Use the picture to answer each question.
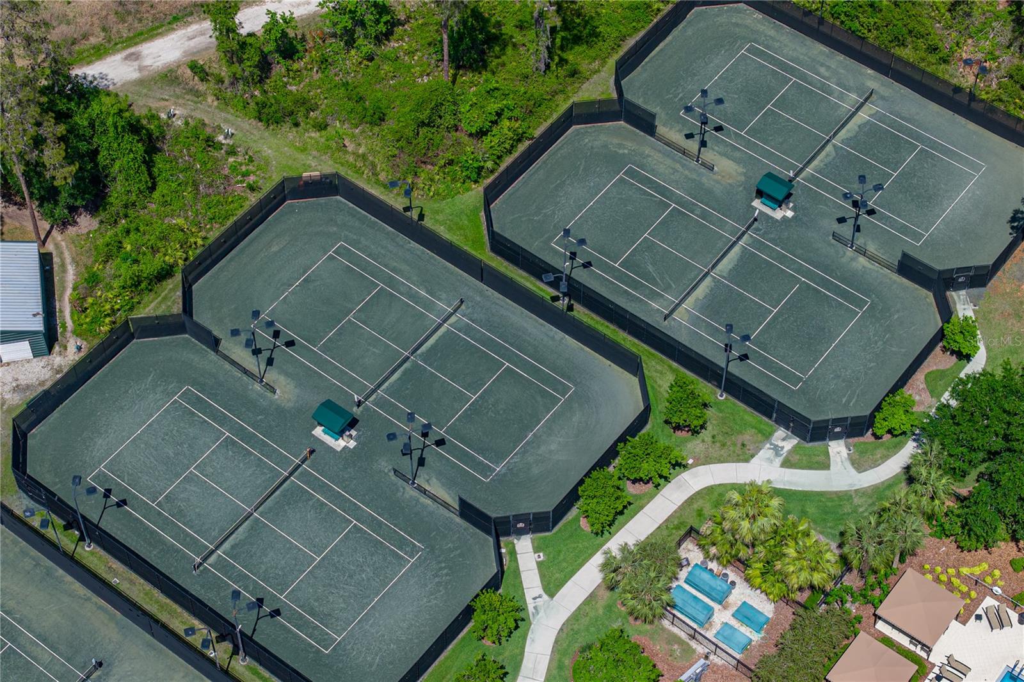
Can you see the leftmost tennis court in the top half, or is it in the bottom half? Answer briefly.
bottom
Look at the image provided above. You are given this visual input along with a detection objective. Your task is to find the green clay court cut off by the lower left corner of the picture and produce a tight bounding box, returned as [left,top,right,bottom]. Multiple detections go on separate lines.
[0,524,211,682]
